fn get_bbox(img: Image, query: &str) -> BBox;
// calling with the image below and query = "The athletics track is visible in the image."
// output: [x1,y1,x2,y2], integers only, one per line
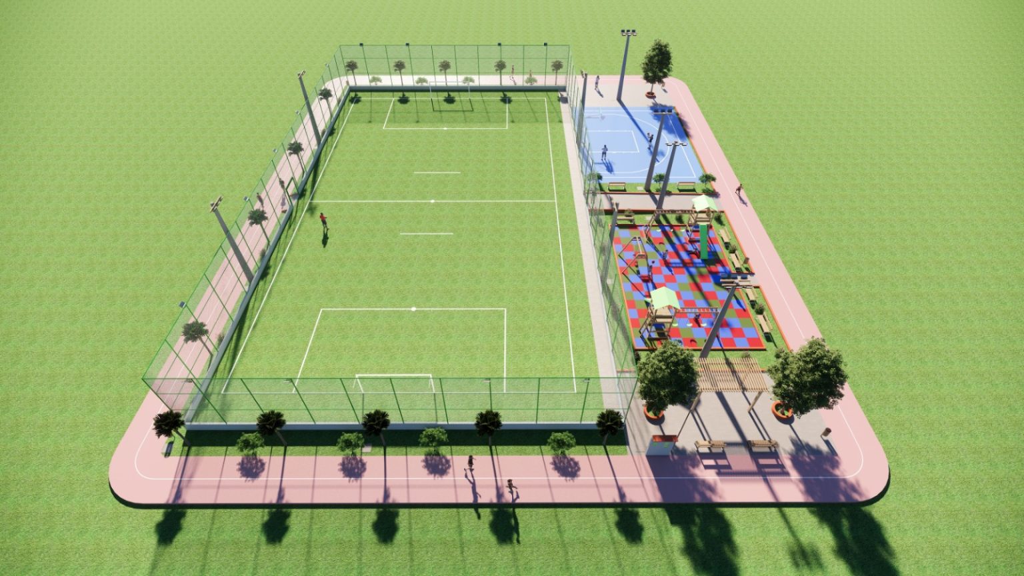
[113,76,885,505]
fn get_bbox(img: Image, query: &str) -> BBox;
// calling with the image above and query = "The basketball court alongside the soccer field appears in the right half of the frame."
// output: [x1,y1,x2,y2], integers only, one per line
[572,107,706,182]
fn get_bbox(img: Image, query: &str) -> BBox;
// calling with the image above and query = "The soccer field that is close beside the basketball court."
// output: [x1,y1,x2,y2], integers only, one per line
[194,92,606,421]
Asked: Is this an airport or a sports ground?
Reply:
sports ground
